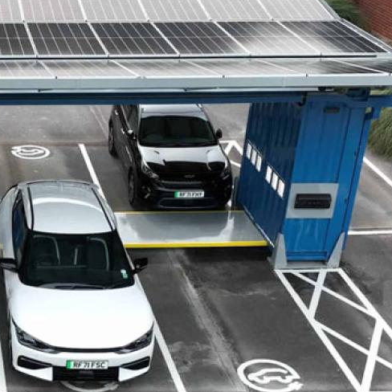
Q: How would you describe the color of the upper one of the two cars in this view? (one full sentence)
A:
The upper one of the two cars is black.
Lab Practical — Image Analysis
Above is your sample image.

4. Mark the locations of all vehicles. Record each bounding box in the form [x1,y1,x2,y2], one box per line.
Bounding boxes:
[0,180,156,384]
[115,103,240,208]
